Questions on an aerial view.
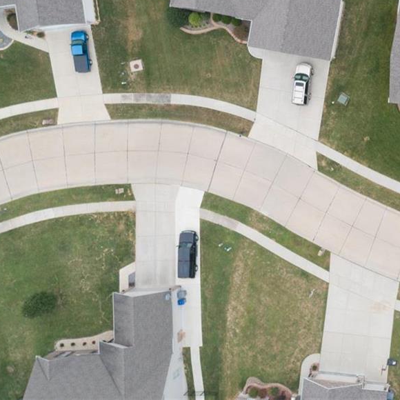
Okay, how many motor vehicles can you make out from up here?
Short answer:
3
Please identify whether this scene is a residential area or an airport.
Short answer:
residential area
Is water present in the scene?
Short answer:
No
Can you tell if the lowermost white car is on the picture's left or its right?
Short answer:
right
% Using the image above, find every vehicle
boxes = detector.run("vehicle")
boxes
[177,231,199,278]
[70,30,95,73]
[291,64,314,107]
